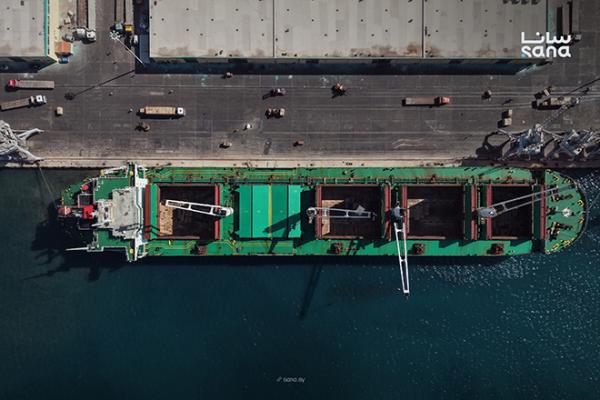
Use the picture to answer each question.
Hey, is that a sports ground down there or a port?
port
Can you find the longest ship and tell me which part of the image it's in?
center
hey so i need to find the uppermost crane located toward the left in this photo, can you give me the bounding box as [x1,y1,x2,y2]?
[0,130,46,158]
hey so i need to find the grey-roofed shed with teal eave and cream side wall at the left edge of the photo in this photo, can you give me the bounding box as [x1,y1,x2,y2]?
[0,0,57,62]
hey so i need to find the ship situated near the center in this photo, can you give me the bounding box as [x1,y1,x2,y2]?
[55,163,591,295]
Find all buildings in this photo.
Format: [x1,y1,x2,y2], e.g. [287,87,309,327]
[149,0,552,64]
[0,0,57,62]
